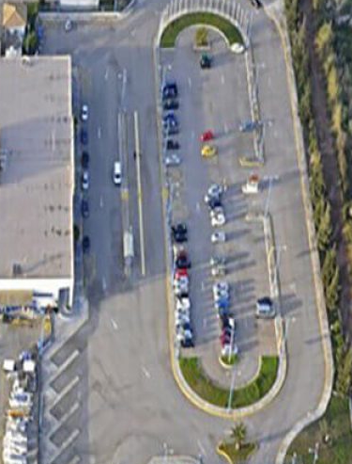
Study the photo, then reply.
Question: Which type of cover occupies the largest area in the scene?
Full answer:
For the most part, this view shows paved ground.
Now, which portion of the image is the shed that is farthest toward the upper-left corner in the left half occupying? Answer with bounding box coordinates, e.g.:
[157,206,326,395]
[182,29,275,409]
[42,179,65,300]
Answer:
[3,6,26,35]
